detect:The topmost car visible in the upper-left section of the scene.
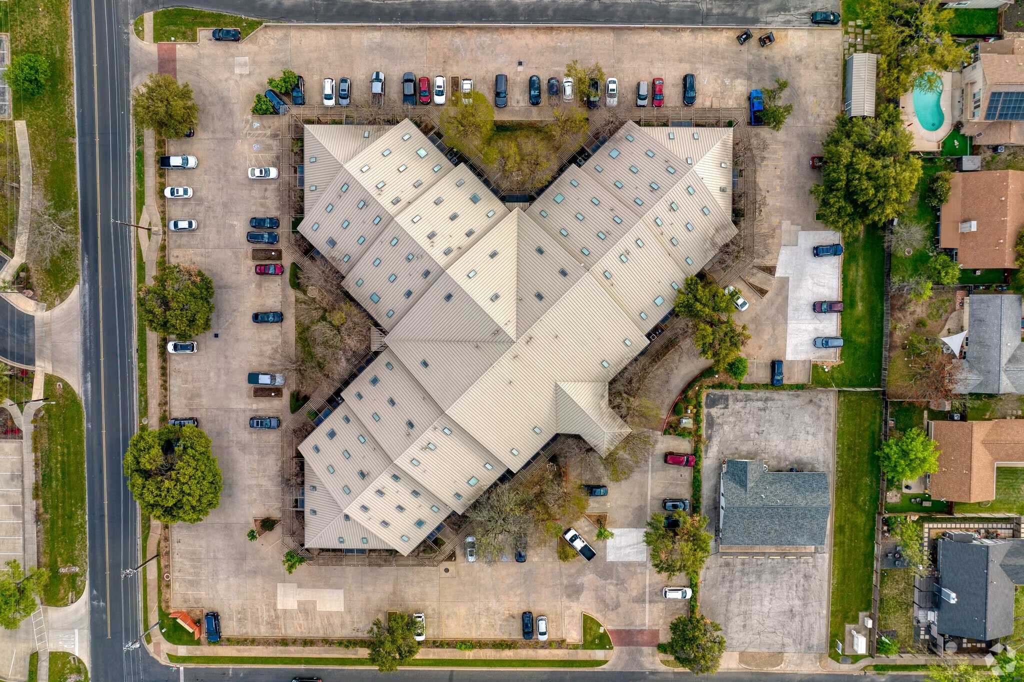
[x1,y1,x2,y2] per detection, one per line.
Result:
[213,27,243,43]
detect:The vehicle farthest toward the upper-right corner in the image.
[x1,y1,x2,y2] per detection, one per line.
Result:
[809,10,839,26]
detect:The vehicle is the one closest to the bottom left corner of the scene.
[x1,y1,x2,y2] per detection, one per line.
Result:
[204,610,221,642]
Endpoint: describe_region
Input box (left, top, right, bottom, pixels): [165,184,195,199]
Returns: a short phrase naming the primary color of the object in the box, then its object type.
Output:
white car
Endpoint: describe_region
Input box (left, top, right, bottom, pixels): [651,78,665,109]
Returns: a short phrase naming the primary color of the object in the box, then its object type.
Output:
red car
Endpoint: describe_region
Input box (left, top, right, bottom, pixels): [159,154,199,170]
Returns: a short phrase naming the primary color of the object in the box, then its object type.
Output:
white vehicle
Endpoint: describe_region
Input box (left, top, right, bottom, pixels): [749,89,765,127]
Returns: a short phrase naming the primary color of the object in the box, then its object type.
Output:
blue vehicle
